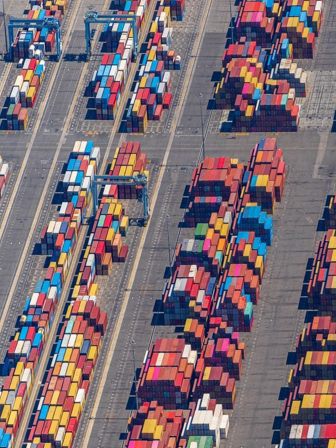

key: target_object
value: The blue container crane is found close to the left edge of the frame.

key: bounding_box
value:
[5,11,62,63]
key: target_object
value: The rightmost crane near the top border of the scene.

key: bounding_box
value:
[81,11,138,63]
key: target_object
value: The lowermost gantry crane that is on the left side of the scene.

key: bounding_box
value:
[88,169,149,225]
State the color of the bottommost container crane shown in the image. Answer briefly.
blue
